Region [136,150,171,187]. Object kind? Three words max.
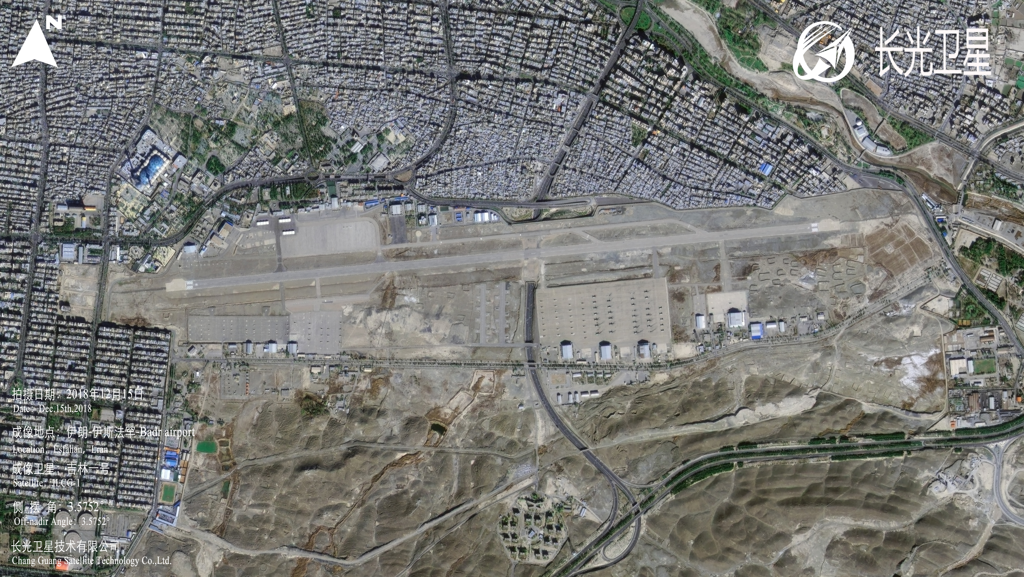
building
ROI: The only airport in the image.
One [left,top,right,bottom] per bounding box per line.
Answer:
[166,206,840,364]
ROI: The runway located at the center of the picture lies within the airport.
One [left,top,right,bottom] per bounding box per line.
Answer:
[185,223,819,290]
